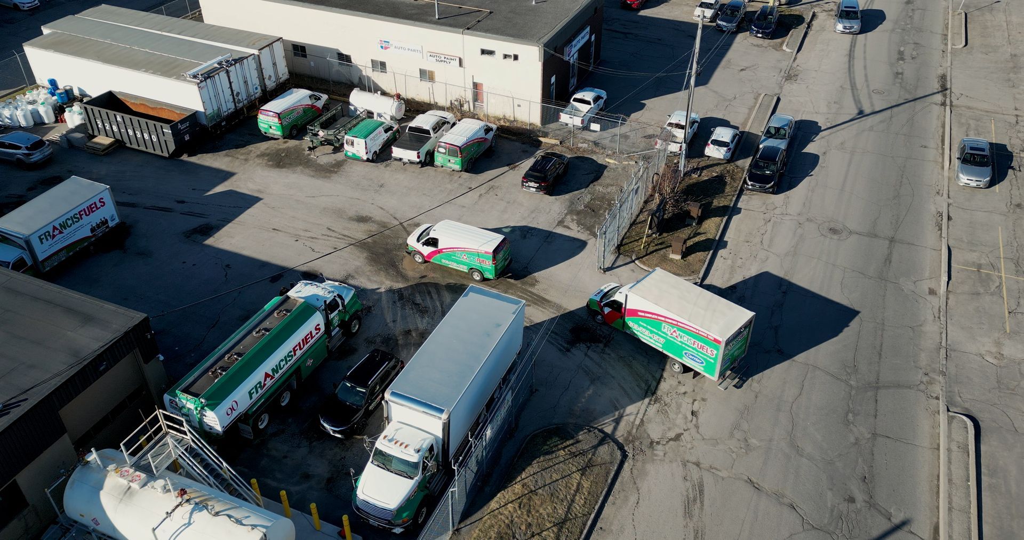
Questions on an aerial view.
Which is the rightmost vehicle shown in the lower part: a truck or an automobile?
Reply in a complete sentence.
In the photo, the rightmost vehicle shown in the lower part shows up as a truck.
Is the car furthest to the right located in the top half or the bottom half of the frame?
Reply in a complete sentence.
The top half of the photo is where the car furthest to the right is.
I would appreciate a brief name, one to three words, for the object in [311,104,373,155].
trailer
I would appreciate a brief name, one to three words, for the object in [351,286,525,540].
truck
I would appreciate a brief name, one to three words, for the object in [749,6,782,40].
car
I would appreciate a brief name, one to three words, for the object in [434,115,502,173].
van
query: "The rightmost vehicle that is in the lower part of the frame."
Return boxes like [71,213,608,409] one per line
[582,268,756,395]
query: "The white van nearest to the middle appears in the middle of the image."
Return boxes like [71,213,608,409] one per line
[401,218,519,281]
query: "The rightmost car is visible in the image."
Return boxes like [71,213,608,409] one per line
[955,144,996,189]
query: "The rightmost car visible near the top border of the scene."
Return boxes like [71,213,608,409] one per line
[835,1,865,35]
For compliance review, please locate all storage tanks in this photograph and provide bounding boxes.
[350,87,404,121]
[43,449,299,540]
